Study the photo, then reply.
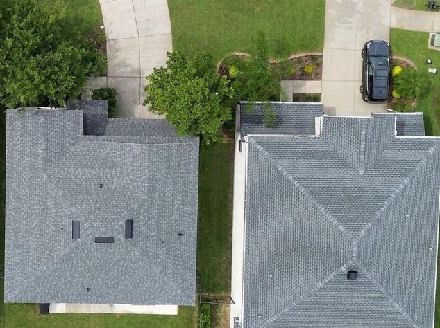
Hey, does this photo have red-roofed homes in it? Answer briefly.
No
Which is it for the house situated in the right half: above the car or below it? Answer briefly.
below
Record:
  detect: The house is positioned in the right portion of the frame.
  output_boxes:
[231,101,440,328]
